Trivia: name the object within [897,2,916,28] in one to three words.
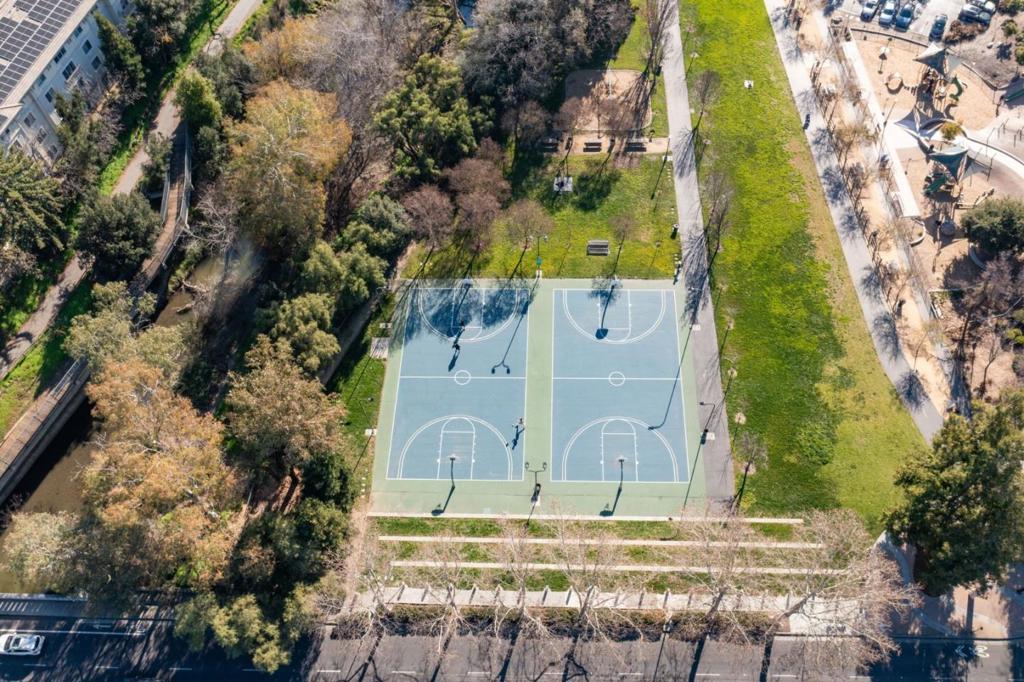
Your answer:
car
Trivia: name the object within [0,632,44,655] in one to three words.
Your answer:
car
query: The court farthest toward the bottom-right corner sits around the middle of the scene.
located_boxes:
[536,279,706,519]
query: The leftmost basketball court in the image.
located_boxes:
[368,279,541,516]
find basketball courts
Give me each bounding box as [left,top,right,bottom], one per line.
[368,279,541,516]
[536,279,706,519]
